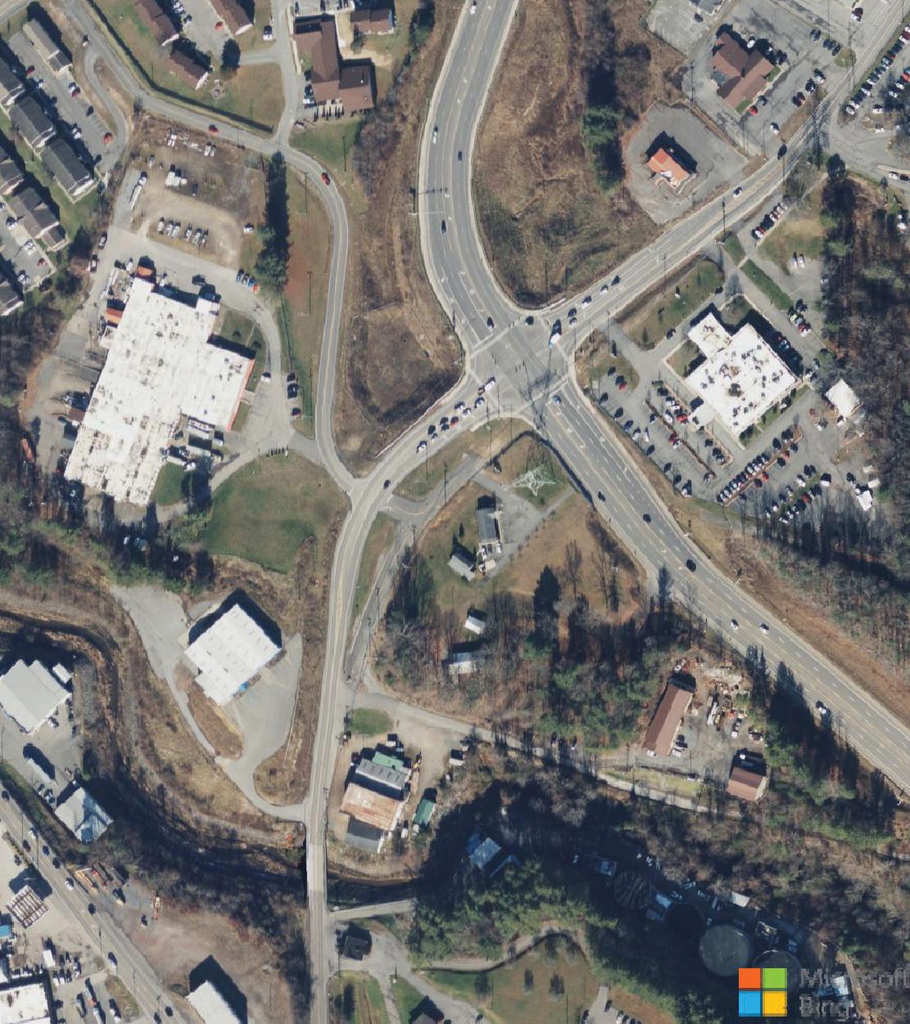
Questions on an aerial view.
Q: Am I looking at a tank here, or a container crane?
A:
tank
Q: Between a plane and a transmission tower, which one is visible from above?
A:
transmission tower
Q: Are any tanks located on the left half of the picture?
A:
No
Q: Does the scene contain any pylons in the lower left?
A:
No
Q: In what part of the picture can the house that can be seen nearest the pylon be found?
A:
center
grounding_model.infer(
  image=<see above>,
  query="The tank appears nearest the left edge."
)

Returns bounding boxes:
[613,870,653,910]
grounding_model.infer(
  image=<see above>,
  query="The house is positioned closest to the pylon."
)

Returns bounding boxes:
[477,509,507,547]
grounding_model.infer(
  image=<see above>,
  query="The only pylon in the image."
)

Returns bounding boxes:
[509,460,561,500]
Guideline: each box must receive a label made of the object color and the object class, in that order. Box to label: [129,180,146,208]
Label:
white vehicle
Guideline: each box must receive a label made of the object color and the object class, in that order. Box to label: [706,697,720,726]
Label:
white vehicle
